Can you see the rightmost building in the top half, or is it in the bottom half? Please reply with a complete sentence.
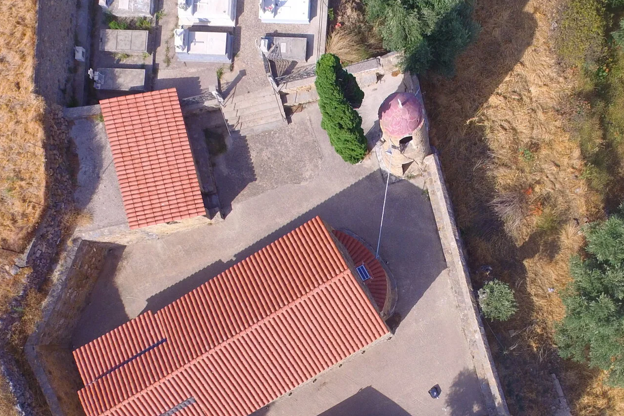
The rightmost building sits in the top half of the picture.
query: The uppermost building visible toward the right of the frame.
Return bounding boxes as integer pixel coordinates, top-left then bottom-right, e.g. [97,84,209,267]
[369,101,428,189]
